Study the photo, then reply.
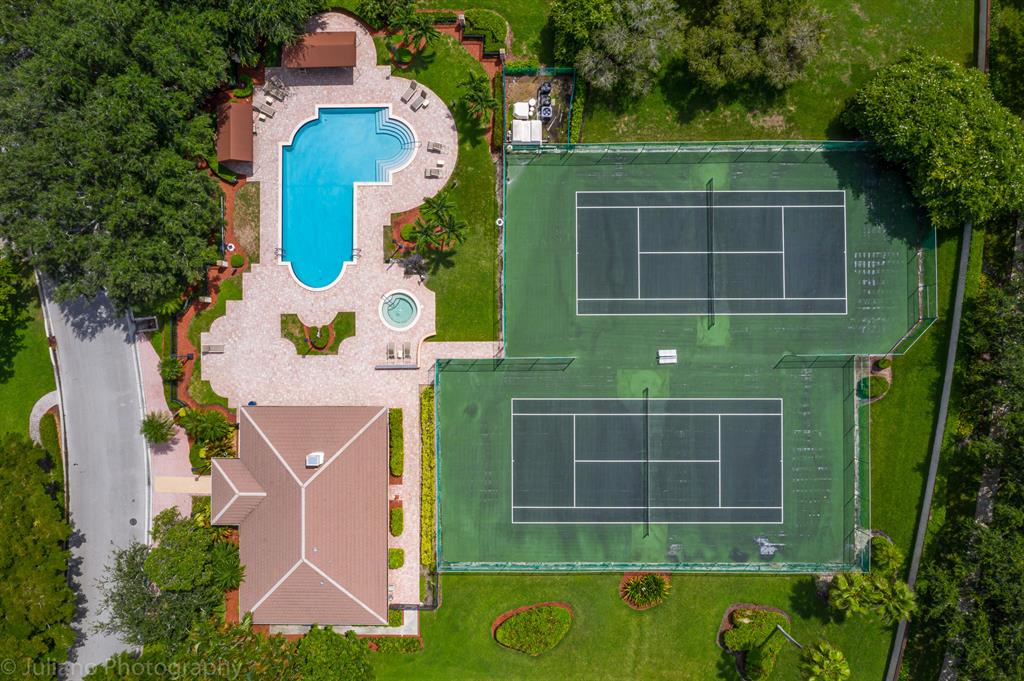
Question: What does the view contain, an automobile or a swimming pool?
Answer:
swimming pool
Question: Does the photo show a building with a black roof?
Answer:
No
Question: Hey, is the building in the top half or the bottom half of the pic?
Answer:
bottom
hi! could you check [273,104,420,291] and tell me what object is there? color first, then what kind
blue swimming pool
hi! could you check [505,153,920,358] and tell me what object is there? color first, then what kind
green tennis court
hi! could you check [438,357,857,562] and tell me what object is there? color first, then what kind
green tennis court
